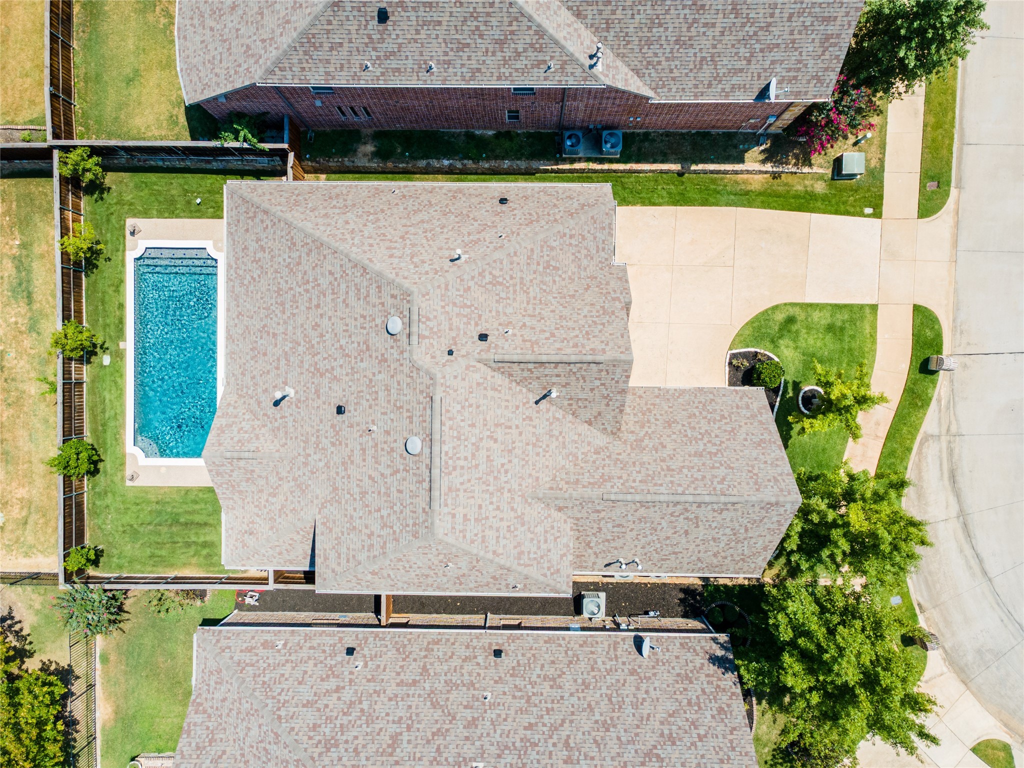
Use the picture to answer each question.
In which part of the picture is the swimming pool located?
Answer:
left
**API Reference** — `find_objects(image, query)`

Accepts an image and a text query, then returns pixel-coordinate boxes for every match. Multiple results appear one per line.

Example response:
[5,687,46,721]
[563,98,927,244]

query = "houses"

[201,179,802,599]
[169,607,761,768]
[179,0,866,141]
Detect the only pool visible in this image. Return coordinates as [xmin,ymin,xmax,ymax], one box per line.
[124,240,223,466]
